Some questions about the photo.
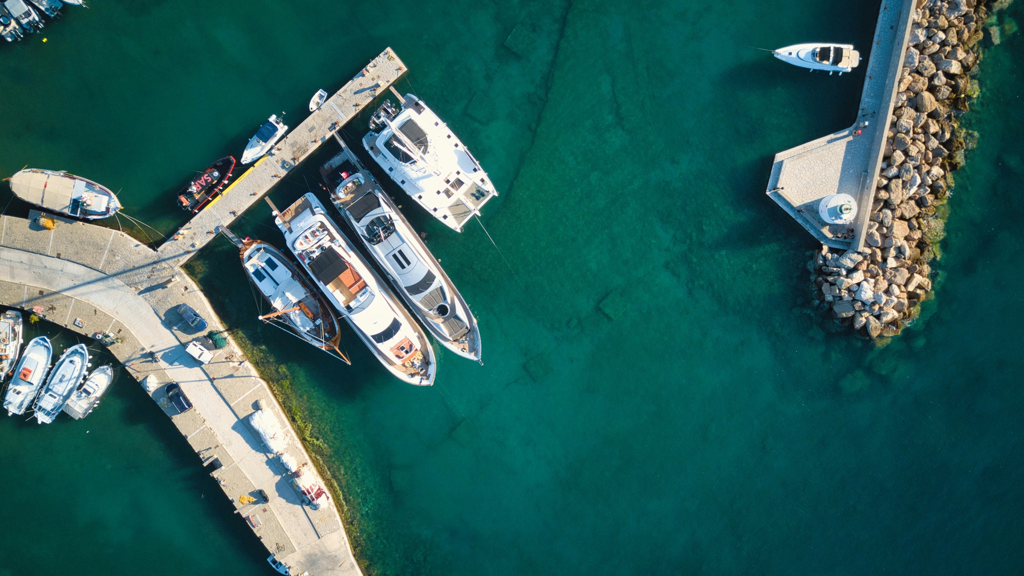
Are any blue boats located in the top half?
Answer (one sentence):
Yes, looking in the top half, one can make out a blue boat.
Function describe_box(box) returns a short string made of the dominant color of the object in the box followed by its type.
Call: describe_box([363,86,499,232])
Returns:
white boat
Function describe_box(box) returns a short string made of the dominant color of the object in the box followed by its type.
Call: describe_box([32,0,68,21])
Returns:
blue boat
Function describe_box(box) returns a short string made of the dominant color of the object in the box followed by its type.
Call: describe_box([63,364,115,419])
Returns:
white boat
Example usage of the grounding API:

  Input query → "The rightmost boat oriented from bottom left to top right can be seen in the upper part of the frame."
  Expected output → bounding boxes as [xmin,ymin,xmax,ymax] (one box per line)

[368,99,400,130]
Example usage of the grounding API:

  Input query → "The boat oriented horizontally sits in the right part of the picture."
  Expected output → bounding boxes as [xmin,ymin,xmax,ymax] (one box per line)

[772,41,863,74]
